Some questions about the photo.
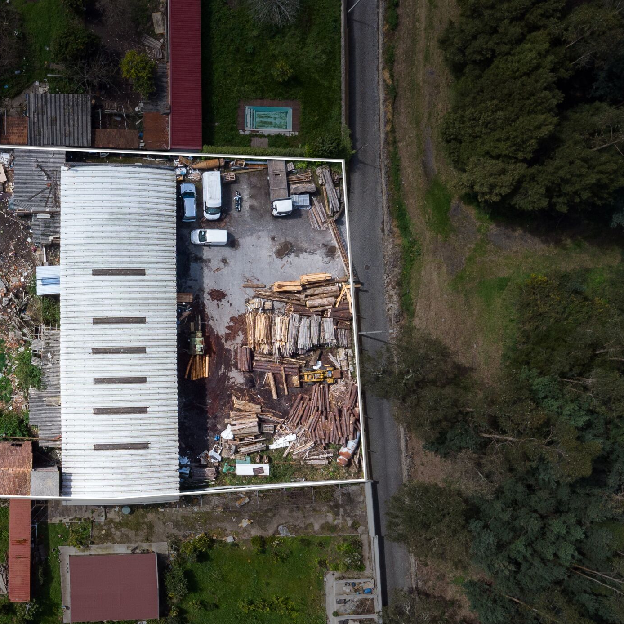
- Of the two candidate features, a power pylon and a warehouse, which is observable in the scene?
warehouse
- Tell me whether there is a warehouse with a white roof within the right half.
No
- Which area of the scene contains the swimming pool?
top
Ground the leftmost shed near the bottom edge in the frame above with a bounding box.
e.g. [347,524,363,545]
[8,496,32,602]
